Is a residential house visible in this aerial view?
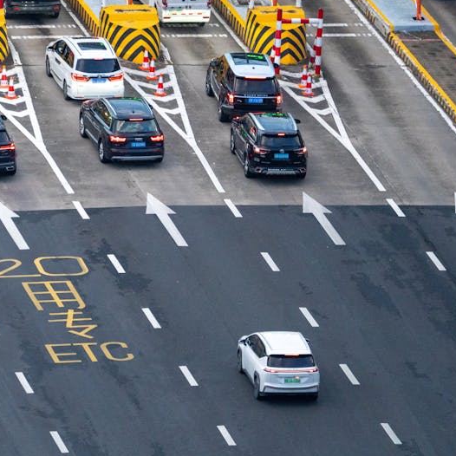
No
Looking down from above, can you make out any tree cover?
No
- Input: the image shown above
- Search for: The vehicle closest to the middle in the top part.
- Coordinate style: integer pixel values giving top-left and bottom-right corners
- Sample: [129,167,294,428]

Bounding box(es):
[232,117,304,178]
